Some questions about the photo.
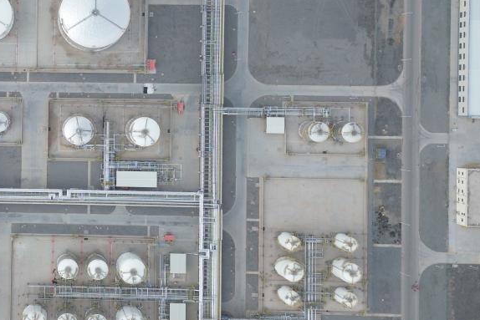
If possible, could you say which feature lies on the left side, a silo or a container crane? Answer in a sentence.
Visible on the left side is a silo.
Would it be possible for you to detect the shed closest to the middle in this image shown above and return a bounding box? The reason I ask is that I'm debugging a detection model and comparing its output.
[263,117,285,133]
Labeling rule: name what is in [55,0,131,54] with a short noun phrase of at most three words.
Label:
storage tank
